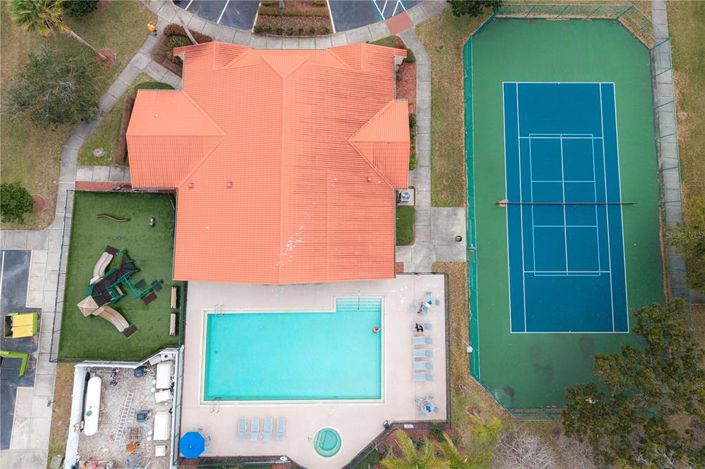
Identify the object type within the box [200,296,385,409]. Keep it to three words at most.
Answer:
swimming pool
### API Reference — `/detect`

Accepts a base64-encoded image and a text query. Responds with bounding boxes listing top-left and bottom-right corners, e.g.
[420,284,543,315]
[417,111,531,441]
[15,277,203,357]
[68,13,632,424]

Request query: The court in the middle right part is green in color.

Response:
[467,18,669,408]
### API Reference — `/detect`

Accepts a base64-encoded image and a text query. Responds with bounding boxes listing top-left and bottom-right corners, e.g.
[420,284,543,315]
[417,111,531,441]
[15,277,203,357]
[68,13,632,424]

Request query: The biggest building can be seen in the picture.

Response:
[127,42,410,283]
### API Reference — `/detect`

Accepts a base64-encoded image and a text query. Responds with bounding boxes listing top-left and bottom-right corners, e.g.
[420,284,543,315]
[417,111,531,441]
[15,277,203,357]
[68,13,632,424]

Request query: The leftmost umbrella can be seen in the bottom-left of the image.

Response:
[178,432,204,458]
